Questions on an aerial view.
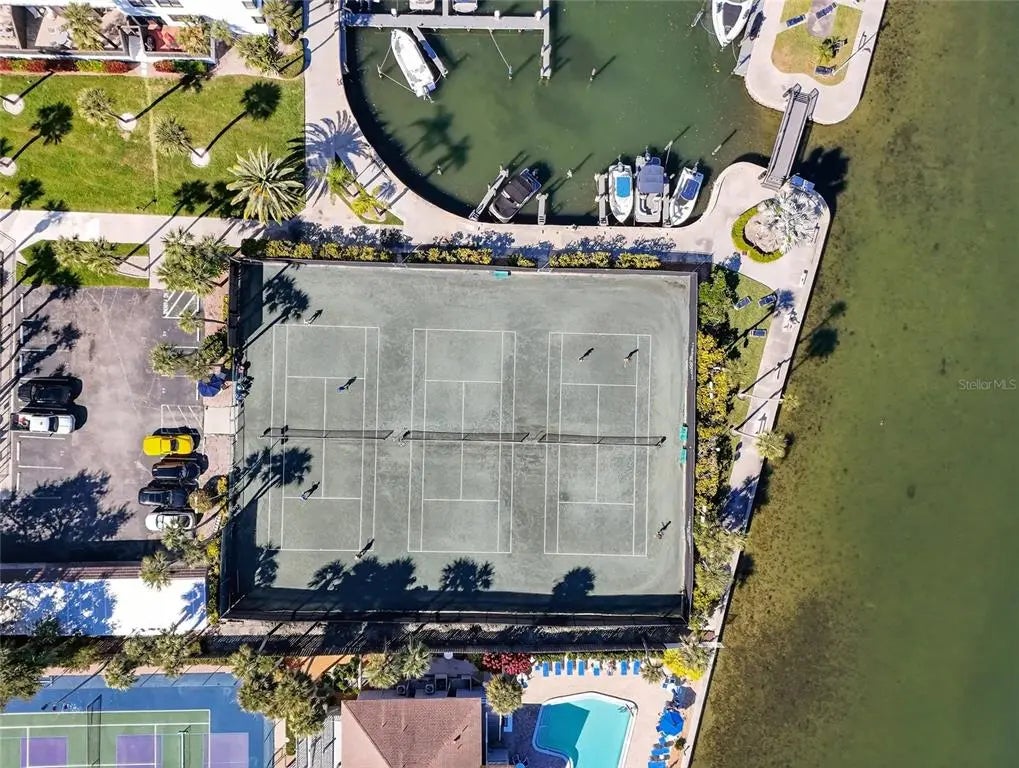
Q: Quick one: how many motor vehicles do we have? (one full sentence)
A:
The count of motor vehicles comes to 6.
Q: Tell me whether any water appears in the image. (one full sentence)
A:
Yes, there is water in the image.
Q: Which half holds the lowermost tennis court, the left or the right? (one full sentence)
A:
You can find the lowermost tennis court on the left side of the picture.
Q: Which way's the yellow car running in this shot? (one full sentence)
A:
The yellow car has been laid out from side to side relative to the frame.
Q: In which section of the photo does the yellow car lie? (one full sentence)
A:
The yellow car is in the left part of the image.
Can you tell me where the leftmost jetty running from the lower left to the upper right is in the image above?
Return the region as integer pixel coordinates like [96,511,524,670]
[470,164,510,221]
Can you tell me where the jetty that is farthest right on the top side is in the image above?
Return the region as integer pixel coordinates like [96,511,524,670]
[731,0,759,76]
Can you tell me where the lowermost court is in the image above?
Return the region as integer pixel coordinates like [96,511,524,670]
[0,672,274,768]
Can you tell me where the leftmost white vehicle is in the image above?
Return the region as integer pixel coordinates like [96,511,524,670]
[11,411,77,433]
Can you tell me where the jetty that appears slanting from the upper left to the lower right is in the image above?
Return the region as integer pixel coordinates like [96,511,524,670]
[411,28,449,78]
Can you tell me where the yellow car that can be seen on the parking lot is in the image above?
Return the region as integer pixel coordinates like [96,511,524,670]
[143,433,194,457]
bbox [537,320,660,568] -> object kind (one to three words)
tennis court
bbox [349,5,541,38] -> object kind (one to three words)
pier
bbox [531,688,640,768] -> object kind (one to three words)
swimming pool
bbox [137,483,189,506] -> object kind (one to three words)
car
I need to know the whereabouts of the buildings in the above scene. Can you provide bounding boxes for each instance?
[340,689,483,768]
[0,0,278,42]
[0,562,219,637]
